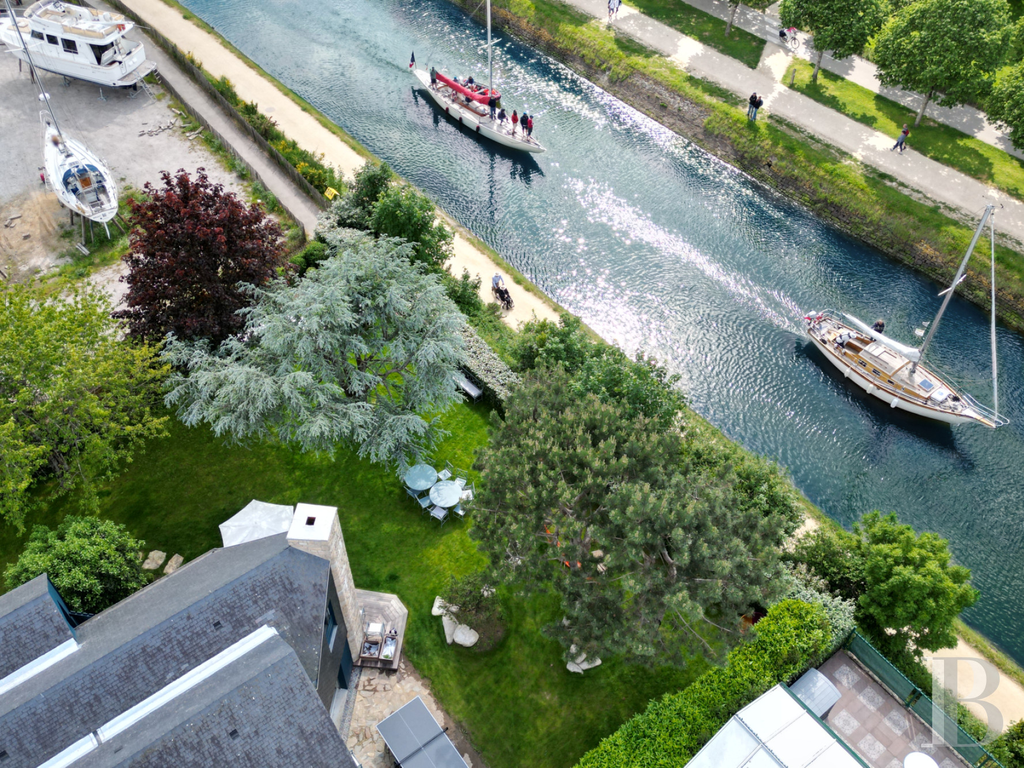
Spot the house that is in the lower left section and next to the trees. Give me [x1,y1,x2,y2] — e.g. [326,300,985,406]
[0,501,371,768]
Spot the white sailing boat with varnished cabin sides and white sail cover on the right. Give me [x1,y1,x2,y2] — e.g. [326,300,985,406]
[805,194,1007,436]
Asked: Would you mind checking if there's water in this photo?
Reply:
Yes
